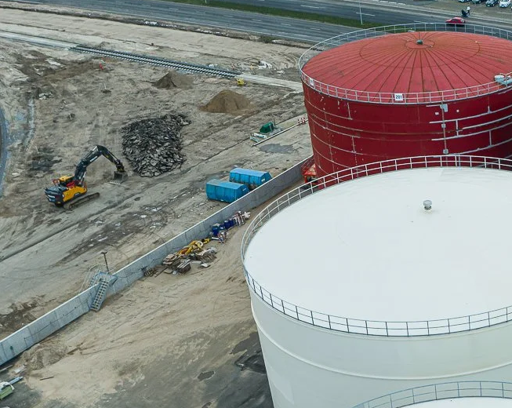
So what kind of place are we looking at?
industrial area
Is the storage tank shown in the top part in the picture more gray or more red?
red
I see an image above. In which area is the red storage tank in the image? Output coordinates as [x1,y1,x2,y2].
[299,23,512,188]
